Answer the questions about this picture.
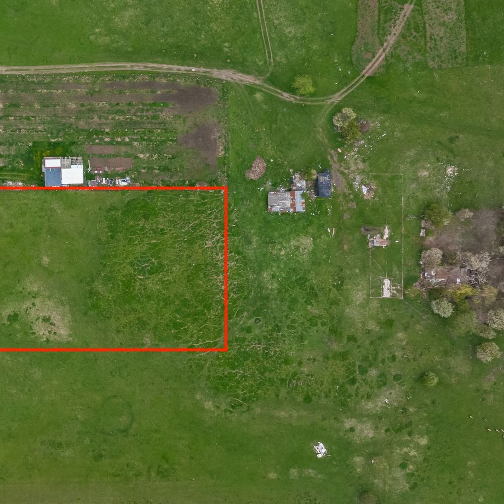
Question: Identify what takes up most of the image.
grass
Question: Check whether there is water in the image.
No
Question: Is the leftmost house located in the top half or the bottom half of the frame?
top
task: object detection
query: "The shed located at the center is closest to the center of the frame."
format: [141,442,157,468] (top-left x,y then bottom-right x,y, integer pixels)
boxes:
[266,191,305,212]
